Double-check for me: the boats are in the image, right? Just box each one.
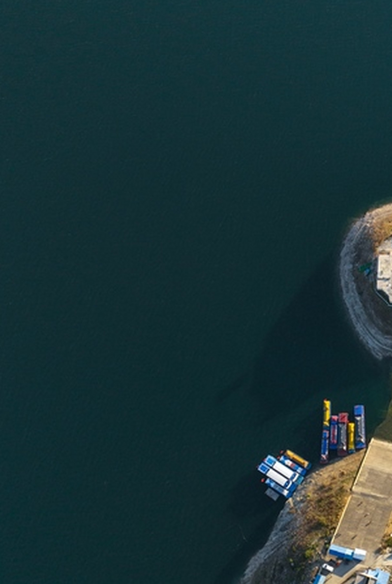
[321,430,329,463]
[354,405,366,447]
[338,412,348,456]
[330,414,338,449]
[348,422,355,453]
[278,456,307,476]
[282,448,311,468]
[264,454,306,484]
[322,397,330,430]
[263,479,290,499]
[258,463,298,491]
